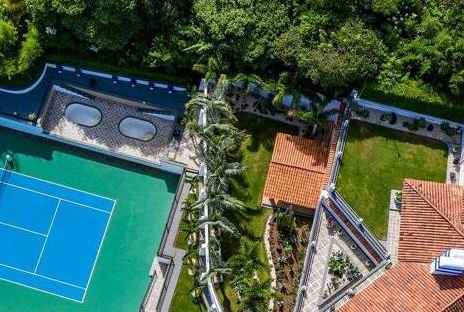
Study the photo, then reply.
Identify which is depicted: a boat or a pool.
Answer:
pool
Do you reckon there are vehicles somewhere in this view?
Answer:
No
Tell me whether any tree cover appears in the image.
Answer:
Yes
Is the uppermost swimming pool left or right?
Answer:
left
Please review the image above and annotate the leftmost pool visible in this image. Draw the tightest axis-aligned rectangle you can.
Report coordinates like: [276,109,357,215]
[66,102,103,129]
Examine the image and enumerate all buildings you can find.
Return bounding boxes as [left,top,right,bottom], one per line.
[339,127,464,312]
[262,132,330,211]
